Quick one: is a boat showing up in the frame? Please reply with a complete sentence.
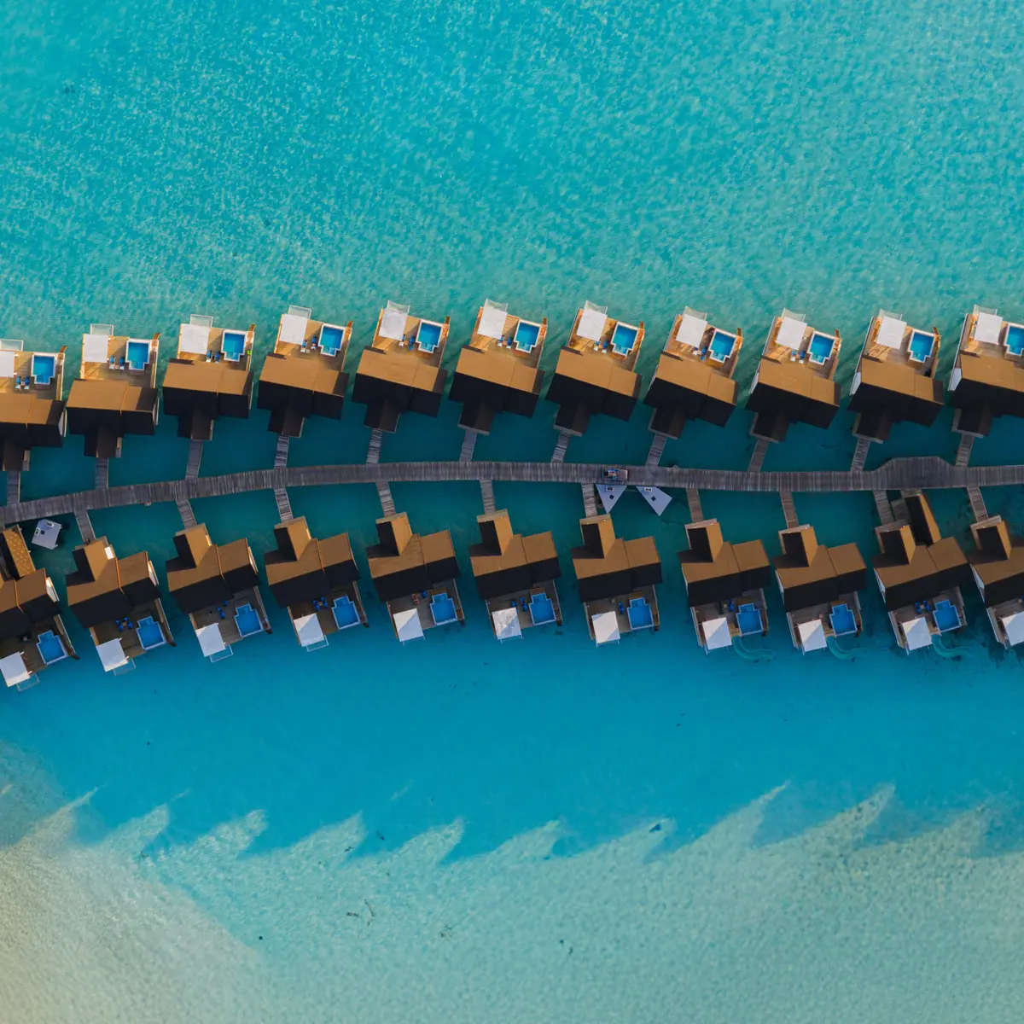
No, the scene contains no boat.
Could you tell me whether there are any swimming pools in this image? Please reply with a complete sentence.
Yes, the photo shows a swimming pool.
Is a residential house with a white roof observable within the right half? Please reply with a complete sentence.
No, looking within the right half, there is no residential house with a white roof.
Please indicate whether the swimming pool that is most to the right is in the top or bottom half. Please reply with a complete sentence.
The top half of the photo is where the swimming pool that is most to the right is.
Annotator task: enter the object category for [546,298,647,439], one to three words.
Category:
house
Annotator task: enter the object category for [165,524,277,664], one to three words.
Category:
house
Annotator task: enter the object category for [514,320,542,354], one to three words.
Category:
swimming pool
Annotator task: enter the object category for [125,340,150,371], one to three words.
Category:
swimming pool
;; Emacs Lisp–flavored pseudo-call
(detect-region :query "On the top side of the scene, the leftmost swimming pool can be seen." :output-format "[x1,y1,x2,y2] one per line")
[33,354,57,384]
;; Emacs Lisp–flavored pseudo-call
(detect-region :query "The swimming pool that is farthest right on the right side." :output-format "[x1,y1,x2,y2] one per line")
[1003,324,1024,357]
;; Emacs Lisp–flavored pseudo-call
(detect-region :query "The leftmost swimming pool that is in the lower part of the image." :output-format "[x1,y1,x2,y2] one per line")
[39,634,69,667]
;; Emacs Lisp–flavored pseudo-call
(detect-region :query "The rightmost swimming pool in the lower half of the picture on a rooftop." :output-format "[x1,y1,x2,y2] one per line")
[931,602,960,634]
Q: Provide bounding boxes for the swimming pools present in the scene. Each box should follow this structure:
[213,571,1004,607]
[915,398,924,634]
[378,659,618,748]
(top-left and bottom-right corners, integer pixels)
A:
[1003,324,1024,357]
[221,332,247,363]
[830,606,857,638]
[611,322,639,356]
[736,605,763,637]
[138,621,167,653]
[319,325,346,358]
[514,320,542,354]
[236,607,264,639]
[931,602,960,634]
[125,340,150,371]
[807,331,836,364]
[332,599,360,632]
[39,634,69,667]
[529,595,556,627]
[708,330,738,363]
[628,600,654,631]
[416,321,444,354]
[907,330,936,363]
[33,354,57,384]
[431,595,458,627]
